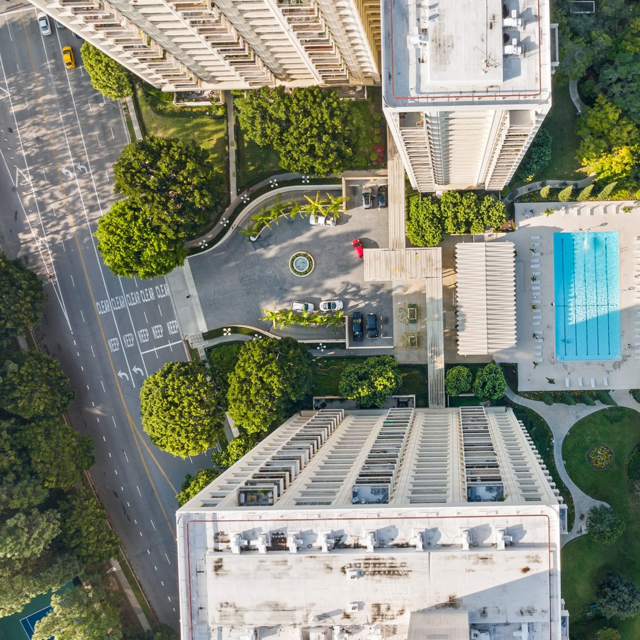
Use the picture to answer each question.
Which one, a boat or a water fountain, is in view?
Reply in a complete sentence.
Visible in the photo is a water fountain.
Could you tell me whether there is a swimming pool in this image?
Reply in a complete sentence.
Yes, I can see a swimming pool in this picture.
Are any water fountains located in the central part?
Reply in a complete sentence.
Yes, a water fountain shows up in the central part.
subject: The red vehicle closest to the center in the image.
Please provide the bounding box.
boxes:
[350,238,364,261]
